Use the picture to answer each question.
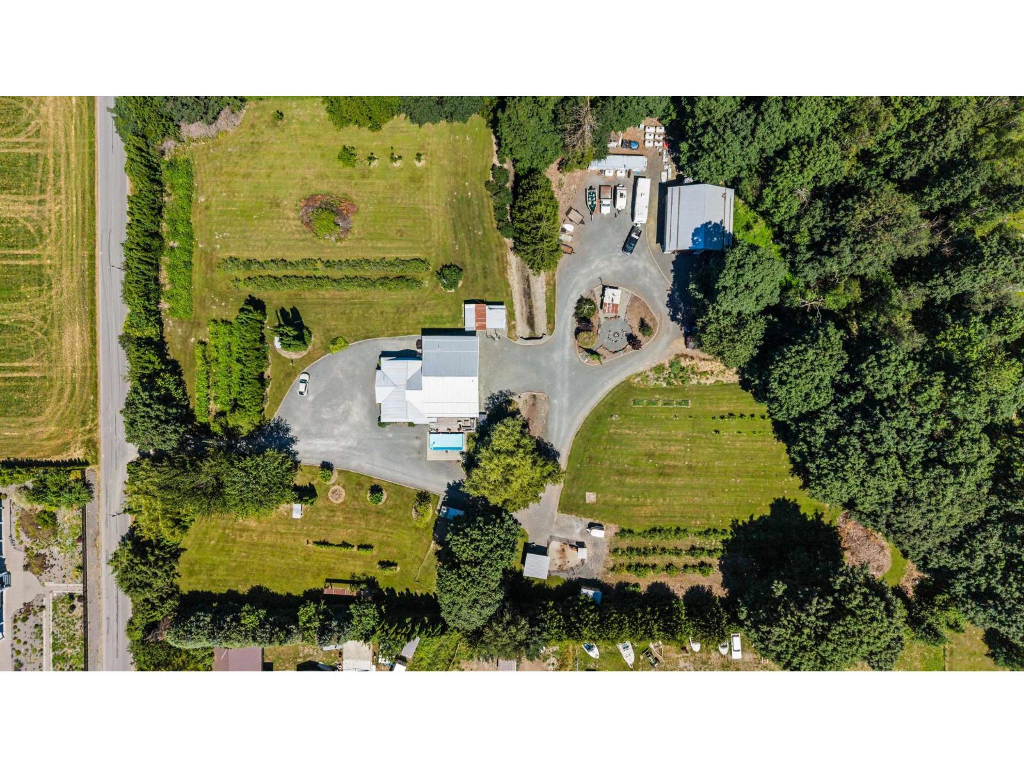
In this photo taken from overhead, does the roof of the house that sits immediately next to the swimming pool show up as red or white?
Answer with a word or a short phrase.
white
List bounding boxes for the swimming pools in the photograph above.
[427,432,466,461]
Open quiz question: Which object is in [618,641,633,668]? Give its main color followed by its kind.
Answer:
white boat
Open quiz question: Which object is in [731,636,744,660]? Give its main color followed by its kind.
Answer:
white vehicle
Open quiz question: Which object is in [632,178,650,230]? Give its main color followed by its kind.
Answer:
white trailer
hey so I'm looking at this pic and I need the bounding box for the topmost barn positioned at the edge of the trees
[664,184,733,257]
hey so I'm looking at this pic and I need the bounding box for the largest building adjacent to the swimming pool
[374,335,479,424]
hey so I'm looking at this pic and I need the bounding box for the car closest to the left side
[297,372,309,396]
